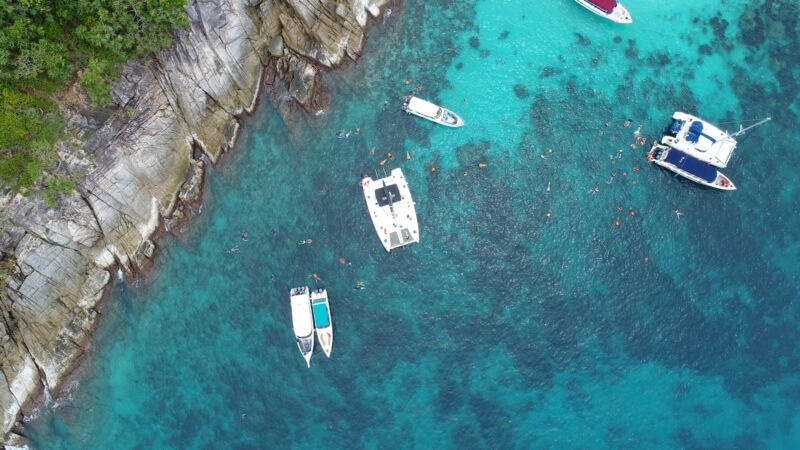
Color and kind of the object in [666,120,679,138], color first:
blue boat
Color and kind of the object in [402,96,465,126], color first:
white boat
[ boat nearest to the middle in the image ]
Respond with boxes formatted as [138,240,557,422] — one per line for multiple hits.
[363,169,419,250]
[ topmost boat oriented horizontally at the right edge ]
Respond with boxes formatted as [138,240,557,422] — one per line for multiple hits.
[659,112,770,166]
